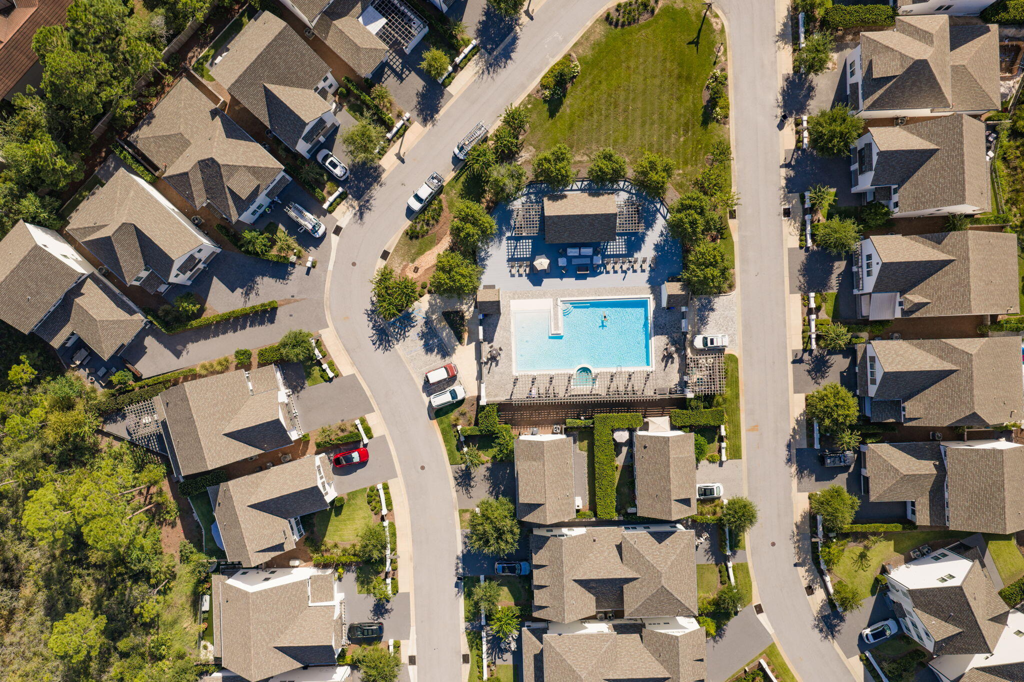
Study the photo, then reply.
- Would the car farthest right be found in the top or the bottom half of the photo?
bottom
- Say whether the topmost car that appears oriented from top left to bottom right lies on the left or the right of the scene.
left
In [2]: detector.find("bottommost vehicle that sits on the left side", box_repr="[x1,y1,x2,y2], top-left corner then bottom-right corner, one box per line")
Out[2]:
[349,622,385,641]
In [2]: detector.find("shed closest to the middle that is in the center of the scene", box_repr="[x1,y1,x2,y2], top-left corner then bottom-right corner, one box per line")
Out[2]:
[477,284,501,315]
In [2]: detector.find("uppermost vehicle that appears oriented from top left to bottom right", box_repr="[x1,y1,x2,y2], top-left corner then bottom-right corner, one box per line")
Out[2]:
[317,150,352,184]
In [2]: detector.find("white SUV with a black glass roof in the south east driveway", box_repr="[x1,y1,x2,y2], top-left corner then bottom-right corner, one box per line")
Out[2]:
[858,616,897,644]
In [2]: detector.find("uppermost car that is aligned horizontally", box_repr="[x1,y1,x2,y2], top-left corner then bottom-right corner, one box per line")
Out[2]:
[692,333,728,351]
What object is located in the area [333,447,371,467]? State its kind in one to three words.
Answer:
car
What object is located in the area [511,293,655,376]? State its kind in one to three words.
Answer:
swimming pool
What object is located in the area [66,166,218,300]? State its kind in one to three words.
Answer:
house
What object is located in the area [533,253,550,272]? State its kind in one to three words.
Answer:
umbrella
